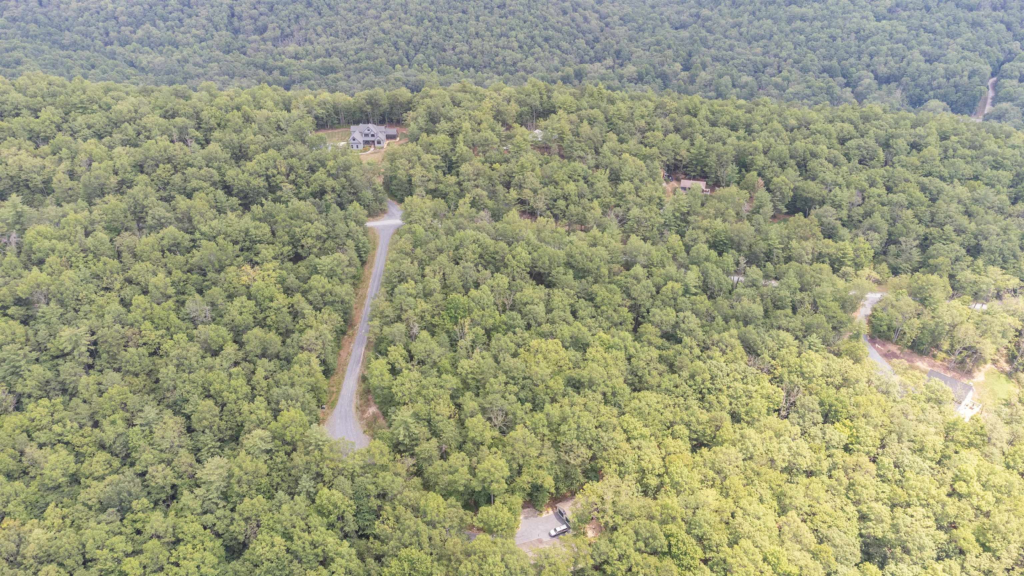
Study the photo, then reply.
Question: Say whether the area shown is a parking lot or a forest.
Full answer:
This looks like a forest.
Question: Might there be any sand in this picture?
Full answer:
No, the picture contains no sand.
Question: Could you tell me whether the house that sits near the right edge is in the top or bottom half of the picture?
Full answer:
The house that sits near the right edge is in the bottom half of the image.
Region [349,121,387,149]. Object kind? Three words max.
house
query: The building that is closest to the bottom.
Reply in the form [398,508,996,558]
[555,491,582,532]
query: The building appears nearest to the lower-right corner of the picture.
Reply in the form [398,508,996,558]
[926,368,980,424]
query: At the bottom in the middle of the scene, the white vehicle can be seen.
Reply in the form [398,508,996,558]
[547,523,570,539]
